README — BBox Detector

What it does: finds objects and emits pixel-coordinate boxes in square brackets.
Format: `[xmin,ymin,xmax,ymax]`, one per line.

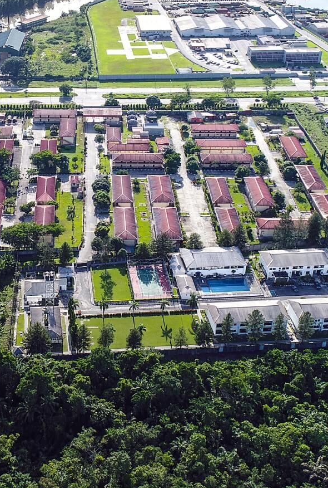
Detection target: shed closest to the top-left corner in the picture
[0,27,23,64]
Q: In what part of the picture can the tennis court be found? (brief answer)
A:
center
